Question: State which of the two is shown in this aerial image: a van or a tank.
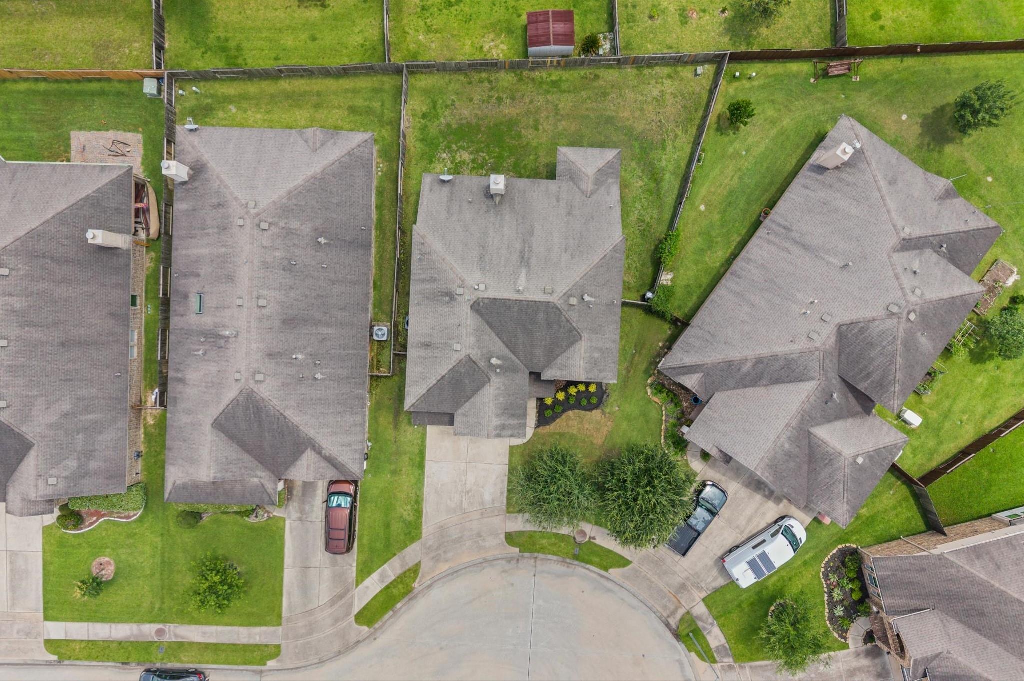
van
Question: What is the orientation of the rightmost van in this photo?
on a diagonal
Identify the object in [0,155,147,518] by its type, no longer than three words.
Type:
house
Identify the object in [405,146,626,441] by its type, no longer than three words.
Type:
house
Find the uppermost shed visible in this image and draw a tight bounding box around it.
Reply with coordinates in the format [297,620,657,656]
[522,7,575,58]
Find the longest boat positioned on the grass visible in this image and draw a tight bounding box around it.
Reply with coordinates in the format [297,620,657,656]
[145,181,160,240]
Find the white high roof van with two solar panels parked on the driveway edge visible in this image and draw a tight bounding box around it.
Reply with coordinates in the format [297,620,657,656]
[720,513,808,589]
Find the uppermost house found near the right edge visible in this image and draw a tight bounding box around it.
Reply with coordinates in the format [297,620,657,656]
[657,115,1003,529]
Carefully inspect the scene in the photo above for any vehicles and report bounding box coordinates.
[141,667,206,681]
[320,480,358,554]
[720,513,808,589]
[660,478,727,560]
